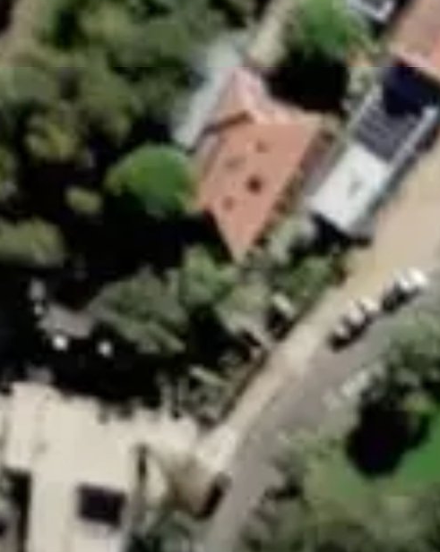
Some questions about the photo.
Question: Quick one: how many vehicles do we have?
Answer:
2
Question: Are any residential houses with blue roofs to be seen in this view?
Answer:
No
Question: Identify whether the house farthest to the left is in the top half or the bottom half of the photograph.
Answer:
top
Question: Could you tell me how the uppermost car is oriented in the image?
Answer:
diagonally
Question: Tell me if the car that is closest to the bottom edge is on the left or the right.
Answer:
right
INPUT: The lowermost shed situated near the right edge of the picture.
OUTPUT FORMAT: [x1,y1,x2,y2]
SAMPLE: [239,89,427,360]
[306,70,440,240]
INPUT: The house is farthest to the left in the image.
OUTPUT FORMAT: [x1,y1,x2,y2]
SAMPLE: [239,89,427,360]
[172,42,328,261]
